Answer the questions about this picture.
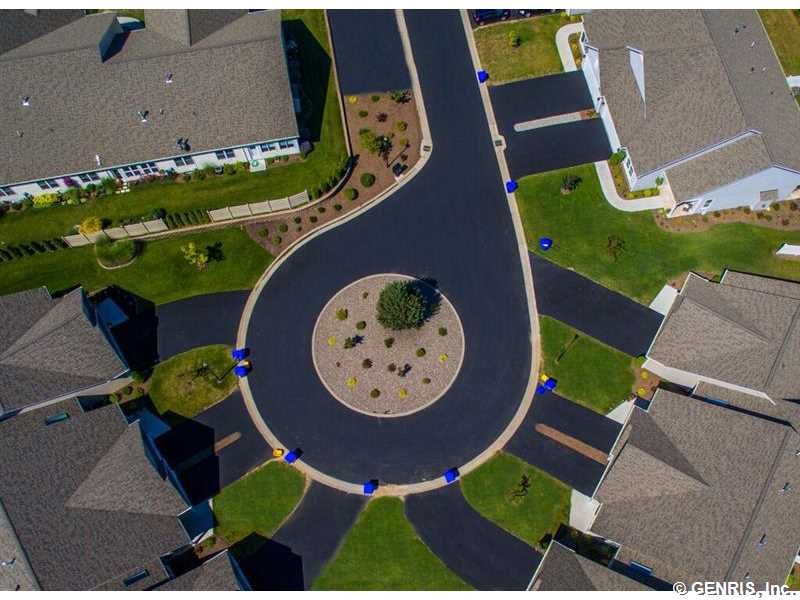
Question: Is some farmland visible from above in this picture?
No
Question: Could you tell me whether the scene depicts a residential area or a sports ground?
residential area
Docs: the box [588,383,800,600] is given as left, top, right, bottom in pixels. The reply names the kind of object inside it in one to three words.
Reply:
house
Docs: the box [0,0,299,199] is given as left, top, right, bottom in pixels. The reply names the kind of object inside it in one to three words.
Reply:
house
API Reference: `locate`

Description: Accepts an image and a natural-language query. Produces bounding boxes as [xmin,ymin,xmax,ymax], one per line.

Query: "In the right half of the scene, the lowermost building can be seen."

[521,541,670,600]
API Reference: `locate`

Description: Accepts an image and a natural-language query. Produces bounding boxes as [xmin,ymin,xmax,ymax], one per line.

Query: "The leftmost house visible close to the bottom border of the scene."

[0,398,195,600]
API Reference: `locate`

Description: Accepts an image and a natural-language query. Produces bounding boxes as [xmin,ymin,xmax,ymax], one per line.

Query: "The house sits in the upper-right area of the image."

[555,0,800,221]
